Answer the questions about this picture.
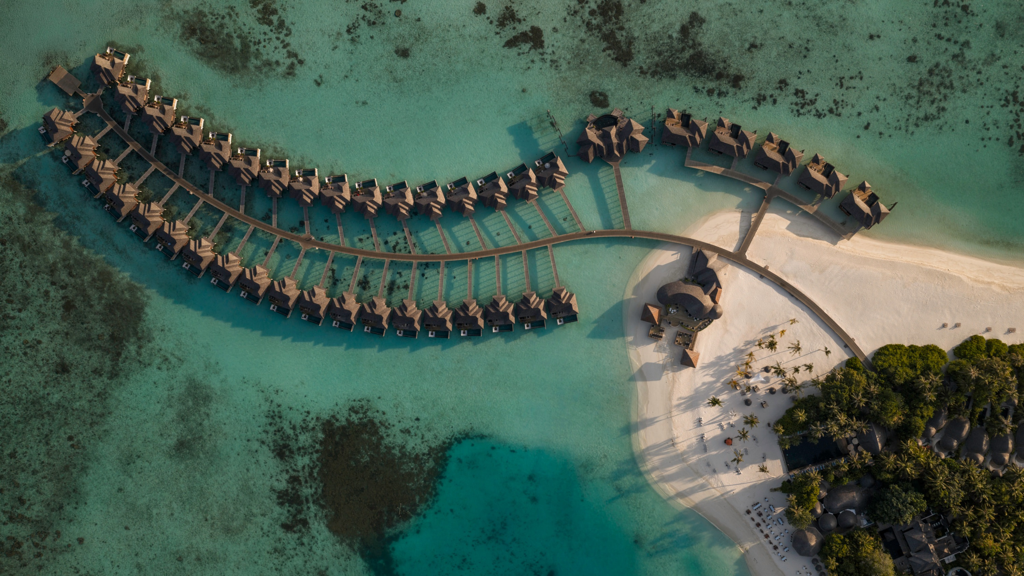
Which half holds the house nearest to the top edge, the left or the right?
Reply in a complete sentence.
The house nearest to the top edge is on the left side of the image.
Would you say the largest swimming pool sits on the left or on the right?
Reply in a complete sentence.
The largest swimming pool is on the right side of the image.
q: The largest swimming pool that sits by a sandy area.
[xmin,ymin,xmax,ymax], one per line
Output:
[780,423,856,478]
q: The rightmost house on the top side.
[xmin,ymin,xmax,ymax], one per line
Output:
[837,179,892,229]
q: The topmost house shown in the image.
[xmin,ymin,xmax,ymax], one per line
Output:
[90,47,130,89]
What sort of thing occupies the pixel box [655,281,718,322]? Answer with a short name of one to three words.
building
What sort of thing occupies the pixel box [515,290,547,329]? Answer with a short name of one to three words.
house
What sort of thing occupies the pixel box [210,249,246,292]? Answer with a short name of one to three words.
house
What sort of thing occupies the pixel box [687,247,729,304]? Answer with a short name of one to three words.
building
